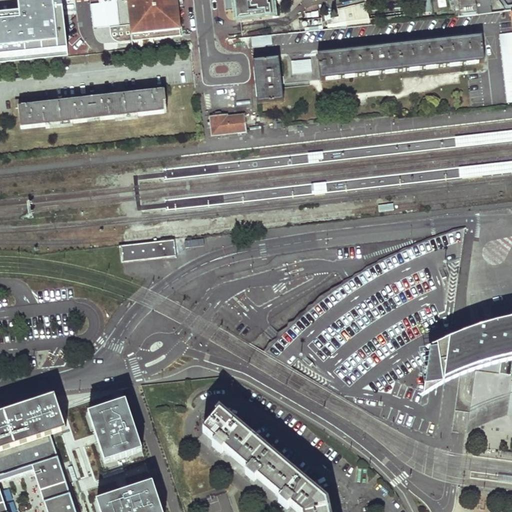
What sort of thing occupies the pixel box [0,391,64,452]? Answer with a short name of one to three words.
building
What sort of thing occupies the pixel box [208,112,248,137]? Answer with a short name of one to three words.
house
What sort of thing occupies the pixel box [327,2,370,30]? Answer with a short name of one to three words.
building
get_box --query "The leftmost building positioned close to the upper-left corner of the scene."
[0,0,68,62]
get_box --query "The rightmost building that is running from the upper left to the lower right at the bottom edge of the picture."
[201,404,331,512]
